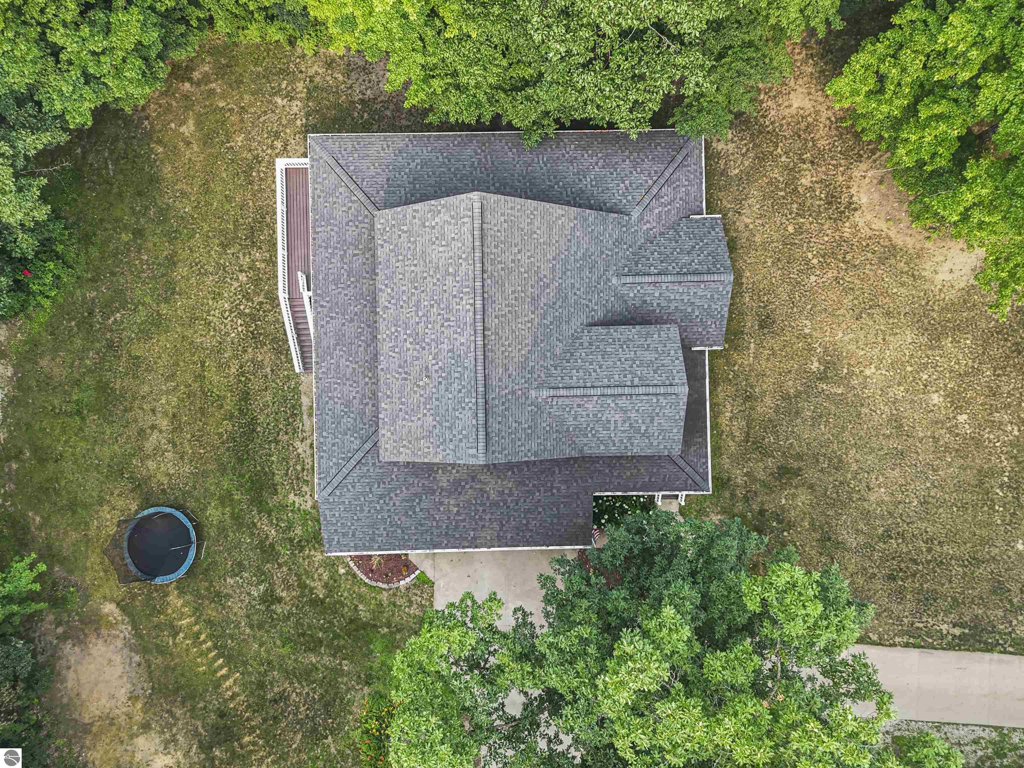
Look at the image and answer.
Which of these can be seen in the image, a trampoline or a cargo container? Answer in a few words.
trampoline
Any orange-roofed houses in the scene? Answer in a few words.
No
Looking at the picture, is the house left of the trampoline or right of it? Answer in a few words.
right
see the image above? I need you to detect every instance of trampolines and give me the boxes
[99,506,205,591]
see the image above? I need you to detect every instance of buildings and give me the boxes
[308,125,734,556]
